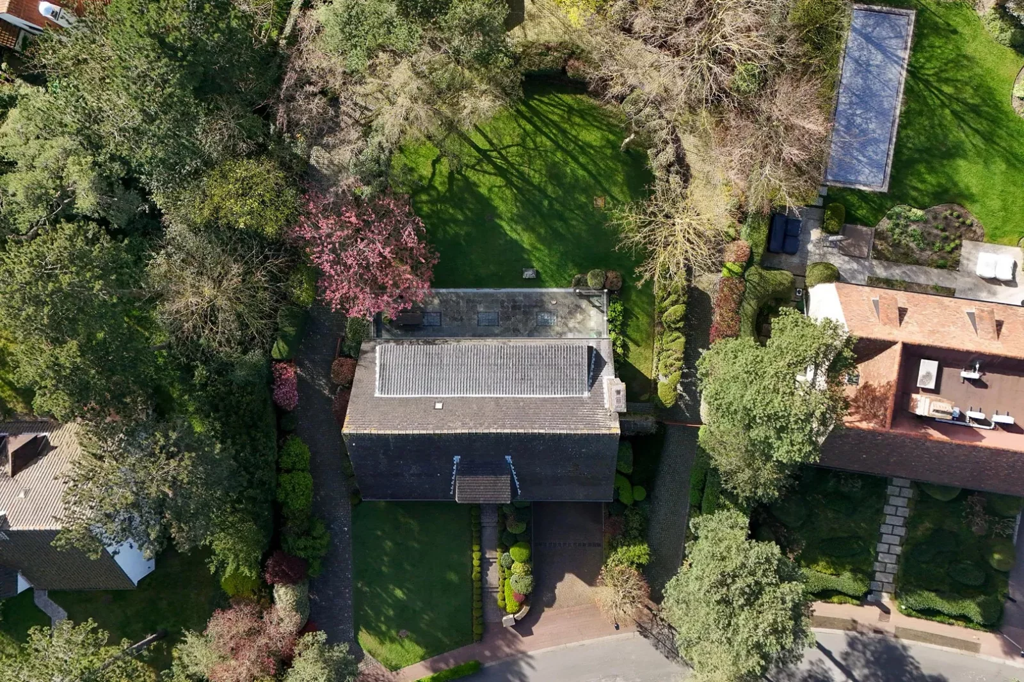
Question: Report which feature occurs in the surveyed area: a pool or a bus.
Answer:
pool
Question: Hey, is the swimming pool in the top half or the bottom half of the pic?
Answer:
top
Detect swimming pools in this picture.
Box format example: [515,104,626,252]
[823,5,915,192]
